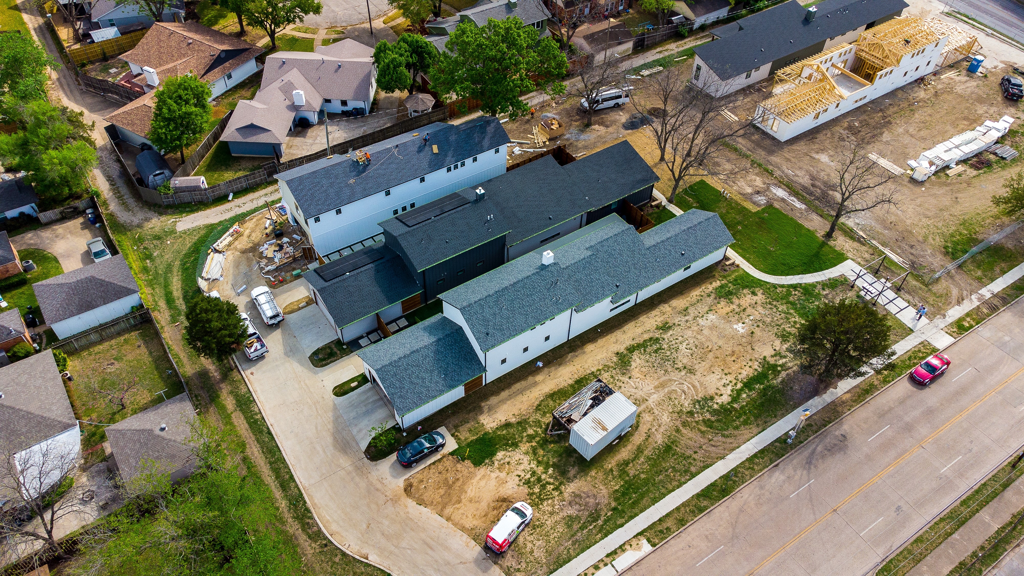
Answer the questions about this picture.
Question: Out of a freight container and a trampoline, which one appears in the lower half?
freight container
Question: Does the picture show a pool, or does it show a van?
van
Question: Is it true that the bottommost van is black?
No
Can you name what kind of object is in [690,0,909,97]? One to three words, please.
house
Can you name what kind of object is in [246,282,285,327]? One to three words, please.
truck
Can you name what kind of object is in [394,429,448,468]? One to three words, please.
car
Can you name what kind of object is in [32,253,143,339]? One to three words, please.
building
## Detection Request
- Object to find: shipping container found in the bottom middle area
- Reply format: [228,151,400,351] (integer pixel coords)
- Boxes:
[570,392,637,460]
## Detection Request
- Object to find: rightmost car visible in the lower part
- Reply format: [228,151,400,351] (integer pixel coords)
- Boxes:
[910,352,954,386]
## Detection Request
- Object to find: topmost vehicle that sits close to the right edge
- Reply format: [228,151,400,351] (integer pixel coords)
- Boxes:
[1000,73,1024,100]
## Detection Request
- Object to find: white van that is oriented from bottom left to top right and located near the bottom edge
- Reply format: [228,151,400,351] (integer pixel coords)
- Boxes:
[485,502,533,555]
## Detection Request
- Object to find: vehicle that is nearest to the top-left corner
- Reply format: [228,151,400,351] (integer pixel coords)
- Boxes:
[86,237,112,263]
